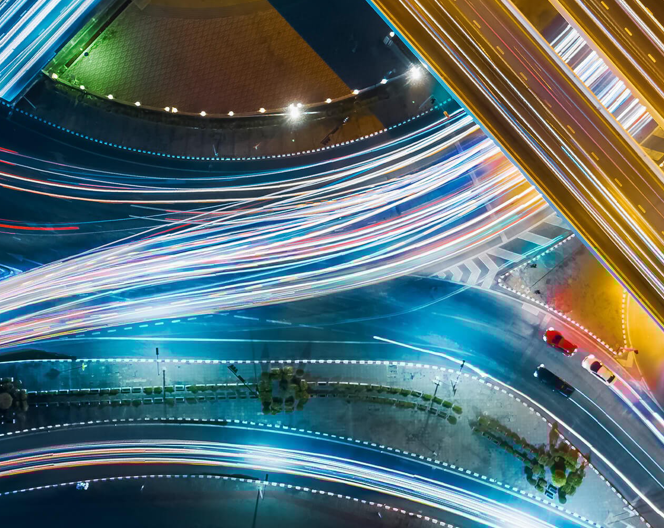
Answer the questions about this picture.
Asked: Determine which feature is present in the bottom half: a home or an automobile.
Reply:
automobile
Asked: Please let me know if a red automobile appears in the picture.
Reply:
Yes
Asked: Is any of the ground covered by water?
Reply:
No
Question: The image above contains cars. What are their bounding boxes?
[537,364,575,397]
[545,327,580,356]
[584,354,619,384]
